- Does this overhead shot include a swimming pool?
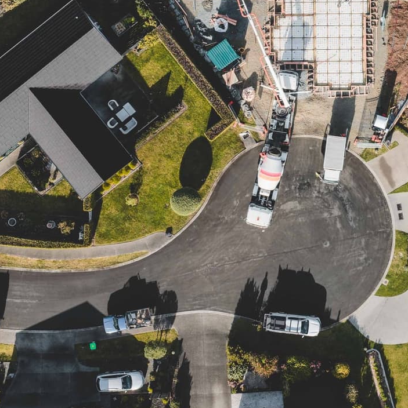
No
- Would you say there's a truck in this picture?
Yes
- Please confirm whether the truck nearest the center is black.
No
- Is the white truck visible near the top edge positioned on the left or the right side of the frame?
right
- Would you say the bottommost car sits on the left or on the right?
left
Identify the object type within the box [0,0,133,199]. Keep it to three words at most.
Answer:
house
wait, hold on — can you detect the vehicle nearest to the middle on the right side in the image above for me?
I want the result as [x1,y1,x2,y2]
[242,141,287,236]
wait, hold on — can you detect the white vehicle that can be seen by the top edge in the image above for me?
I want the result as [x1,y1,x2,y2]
[237,0,313,153]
